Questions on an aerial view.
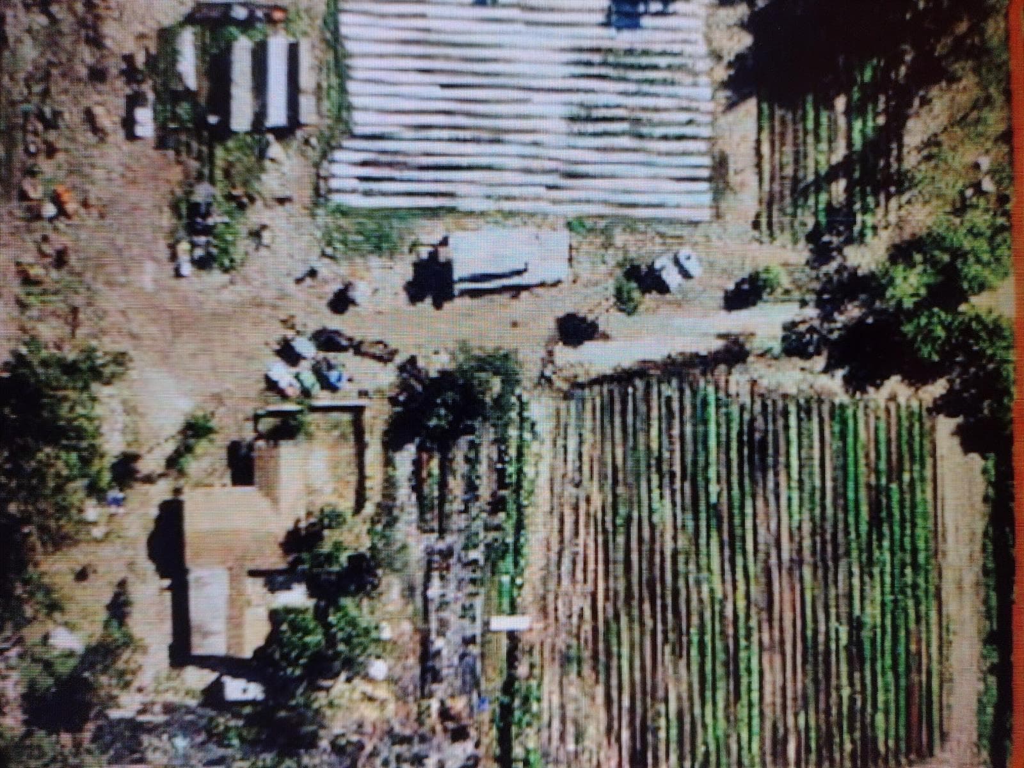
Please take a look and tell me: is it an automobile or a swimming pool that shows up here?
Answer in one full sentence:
There is an automobile in the scene.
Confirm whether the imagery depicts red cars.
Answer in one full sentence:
No, I find no red car anywhere in the image.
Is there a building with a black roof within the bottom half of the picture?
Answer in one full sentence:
No, I can find no building with a black roof within the bottom half of the picture.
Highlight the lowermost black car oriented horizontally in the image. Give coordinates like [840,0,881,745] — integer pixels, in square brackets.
[311,329,349,350]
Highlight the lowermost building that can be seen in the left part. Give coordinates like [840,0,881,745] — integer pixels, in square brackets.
[182,442,306,658]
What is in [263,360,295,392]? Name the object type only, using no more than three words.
car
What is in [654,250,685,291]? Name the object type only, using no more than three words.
car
